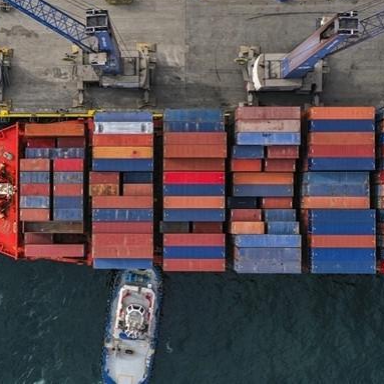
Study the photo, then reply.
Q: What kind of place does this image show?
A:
port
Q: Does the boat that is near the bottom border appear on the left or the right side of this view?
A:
left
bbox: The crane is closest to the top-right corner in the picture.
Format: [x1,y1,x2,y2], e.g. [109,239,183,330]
[243,4,384,108]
